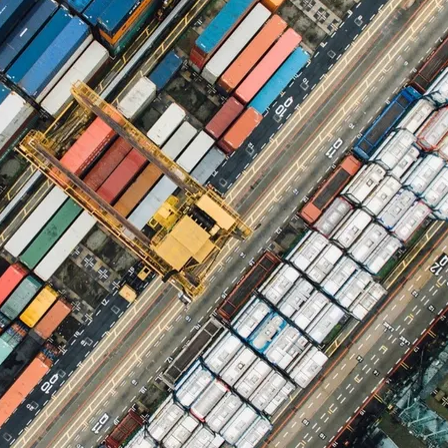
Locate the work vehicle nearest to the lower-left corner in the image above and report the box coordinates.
[116,274,147,305]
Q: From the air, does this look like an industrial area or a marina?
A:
industrial area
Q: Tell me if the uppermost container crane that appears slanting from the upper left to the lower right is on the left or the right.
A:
left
